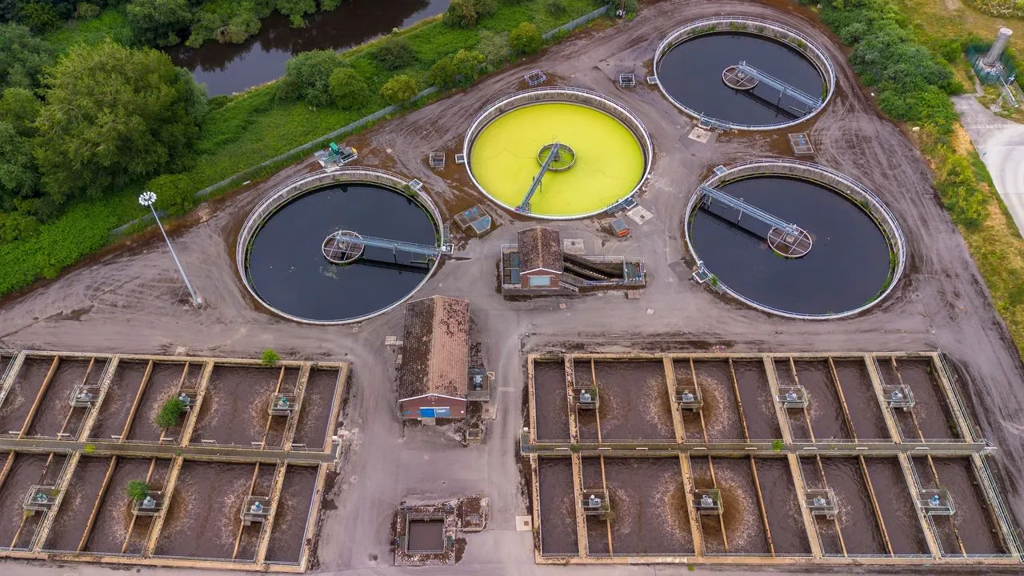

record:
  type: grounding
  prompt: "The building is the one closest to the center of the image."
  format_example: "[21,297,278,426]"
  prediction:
[502,228,565,296]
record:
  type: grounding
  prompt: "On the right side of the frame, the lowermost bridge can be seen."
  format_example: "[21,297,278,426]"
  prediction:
[691,184,798,237]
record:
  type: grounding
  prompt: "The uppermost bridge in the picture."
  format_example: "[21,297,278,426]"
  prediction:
[736,60,829,116]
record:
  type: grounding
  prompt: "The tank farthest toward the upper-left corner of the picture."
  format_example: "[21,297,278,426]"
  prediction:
[235,166,450,326]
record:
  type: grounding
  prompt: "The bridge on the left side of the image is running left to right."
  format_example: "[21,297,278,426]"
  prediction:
[337,233,450,270]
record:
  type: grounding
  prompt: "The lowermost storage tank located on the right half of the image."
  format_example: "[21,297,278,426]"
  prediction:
[686,159,906,322]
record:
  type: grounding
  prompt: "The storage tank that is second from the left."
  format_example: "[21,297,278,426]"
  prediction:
[462,85,654,221]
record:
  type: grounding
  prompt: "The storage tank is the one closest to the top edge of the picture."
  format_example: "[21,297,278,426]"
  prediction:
[654,16,836,132]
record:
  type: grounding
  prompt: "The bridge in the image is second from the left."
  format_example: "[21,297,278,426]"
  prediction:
[515,145,560,219]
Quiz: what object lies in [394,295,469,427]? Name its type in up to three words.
building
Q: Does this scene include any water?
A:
Yes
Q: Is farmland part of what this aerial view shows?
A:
No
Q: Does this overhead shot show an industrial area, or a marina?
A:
industrial area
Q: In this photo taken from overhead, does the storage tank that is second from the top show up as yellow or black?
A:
yellow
